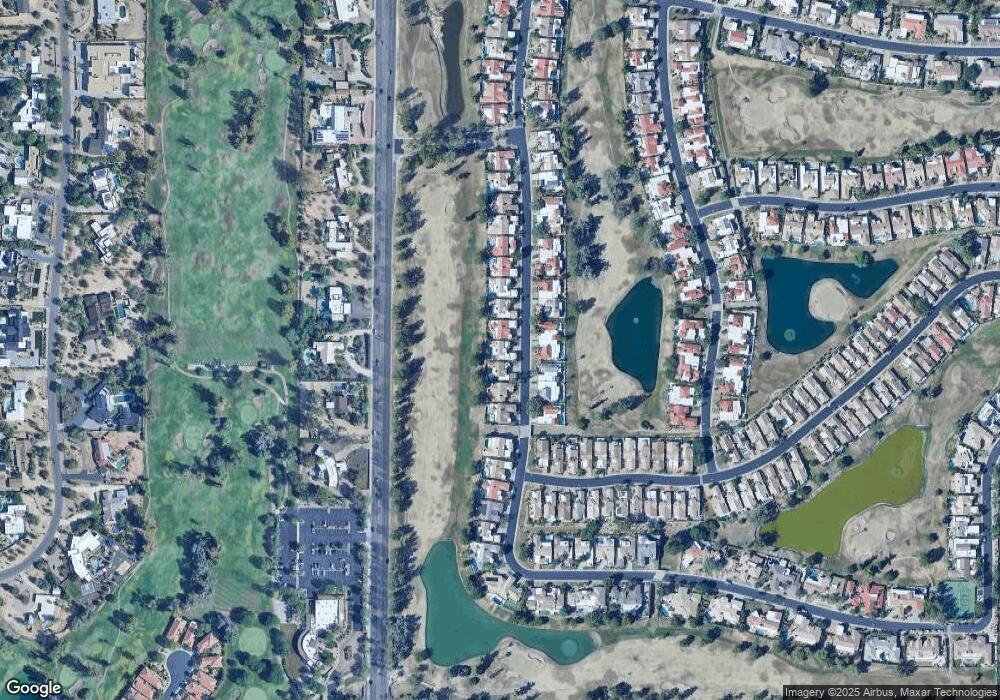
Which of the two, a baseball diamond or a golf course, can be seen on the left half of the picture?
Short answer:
golf course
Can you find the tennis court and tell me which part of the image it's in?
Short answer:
bottom right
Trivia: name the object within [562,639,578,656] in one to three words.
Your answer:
fountain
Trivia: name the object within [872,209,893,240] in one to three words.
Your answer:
house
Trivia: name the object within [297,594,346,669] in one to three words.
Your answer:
building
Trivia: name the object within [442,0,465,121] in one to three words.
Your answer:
pond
